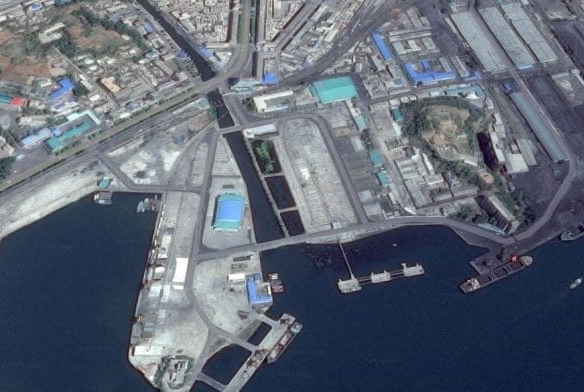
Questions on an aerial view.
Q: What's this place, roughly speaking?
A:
port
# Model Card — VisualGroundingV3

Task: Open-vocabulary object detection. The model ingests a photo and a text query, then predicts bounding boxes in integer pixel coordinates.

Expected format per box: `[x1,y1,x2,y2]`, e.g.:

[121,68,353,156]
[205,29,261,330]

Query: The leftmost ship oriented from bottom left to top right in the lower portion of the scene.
[267,323,303,361]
